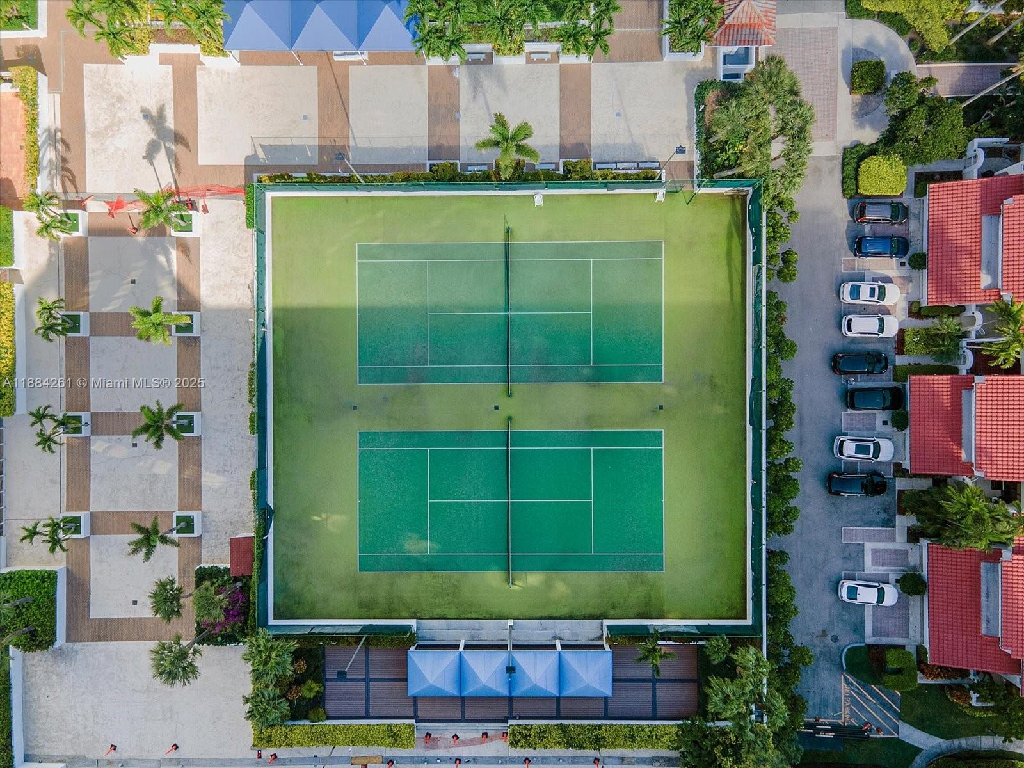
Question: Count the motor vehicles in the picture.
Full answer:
The picture shows 9 motor vehicles.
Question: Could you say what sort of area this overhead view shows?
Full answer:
This image shows a sports ground.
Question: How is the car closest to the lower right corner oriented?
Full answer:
From this overhead view, the car closest to the lower right corner appears to run from side to side.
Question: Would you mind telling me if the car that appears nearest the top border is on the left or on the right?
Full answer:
It is on the right.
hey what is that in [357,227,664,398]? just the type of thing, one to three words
tennis court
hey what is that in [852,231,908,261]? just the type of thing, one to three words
car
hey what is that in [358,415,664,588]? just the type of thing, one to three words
tennis court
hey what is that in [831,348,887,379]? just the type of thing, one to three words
car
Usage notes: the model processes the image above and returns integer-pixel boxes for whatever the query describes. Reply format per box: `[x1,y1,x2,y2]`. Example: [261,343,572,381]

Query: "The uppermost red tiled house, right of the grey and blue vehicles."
[921,173,1024,305]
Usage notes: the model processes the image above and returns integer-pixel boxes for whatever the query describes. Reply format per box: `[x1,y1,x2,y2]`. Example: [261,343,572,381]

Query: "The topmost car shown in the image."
[853,197,908,228]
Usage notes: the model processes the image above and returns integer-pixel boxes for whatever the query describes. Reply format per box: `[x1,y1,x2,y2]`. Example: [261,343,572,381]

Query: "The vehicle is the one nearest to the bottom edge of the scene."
[836,577,897,610]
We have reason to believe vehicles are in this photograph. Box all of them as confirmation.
[853,197,908,228]
[825,469,886,499]
[836,577,897,610]
[840,310,897,341]
[831,348,887,379]
[838,278,898,308]
[832,435,893,465]
[846,384,903,414]
[852,231,908,261]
